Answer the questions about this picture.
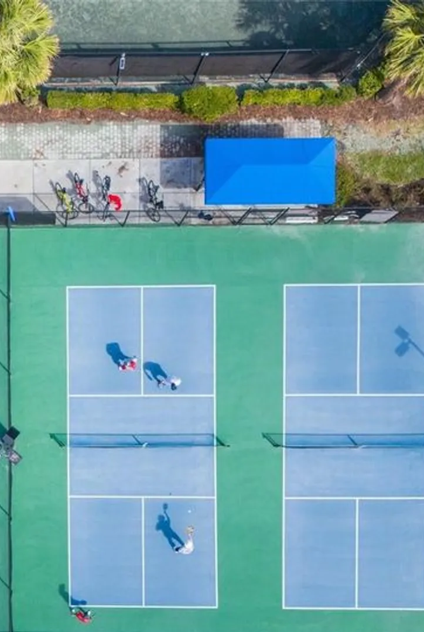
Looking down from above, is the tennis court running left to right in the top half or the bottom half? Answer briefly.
top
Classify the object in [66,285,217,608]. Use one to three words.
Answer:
sports court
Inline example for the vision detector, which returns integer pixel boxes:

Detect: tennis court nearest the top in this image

[32,0,410,82]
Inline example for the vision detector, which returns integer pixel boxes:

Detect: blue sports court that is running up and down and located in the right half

[283,283,424,610]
